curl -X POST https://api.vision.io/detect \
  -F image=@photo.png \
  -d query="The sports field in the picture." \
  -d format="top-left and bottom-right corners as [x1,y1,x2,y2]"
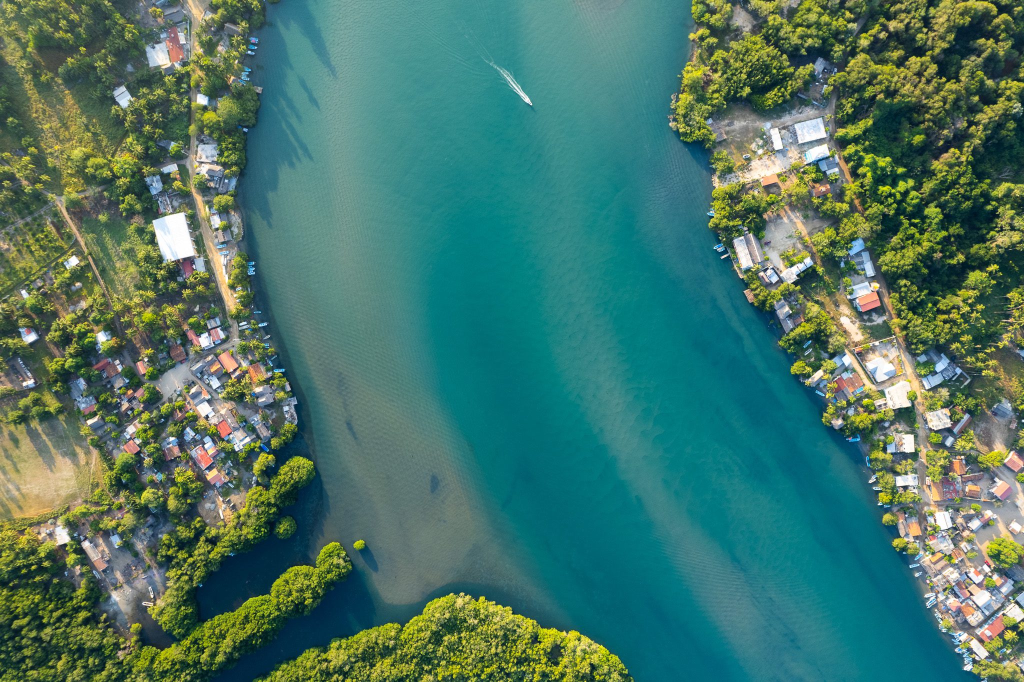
[0,430,85,520]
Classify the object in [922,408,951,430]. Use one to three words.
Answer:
house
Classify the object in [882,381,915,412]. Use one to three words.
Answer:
house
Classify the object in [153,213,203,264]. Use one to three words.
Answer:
building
